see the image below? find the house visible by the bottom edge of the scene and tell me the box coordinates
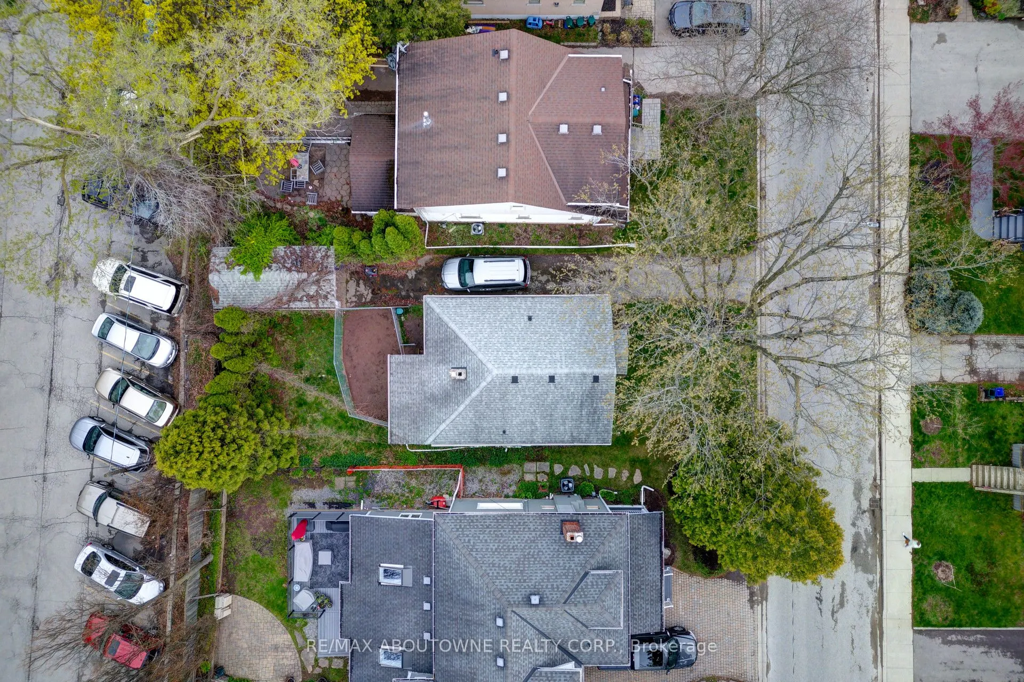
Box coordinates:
[337,486,673,682]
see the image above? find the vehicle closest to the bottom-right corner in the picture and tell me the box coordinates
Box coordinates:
[627,626,697,673]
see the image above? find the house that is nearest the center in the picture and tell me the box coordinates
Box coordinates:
[386,292,628,452]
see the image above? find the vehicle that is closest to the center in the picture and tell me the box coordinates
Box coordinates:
[441,252,532,293]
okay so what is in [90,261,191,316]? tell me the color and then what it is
white car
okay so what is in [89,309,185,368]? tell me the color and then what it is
white car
